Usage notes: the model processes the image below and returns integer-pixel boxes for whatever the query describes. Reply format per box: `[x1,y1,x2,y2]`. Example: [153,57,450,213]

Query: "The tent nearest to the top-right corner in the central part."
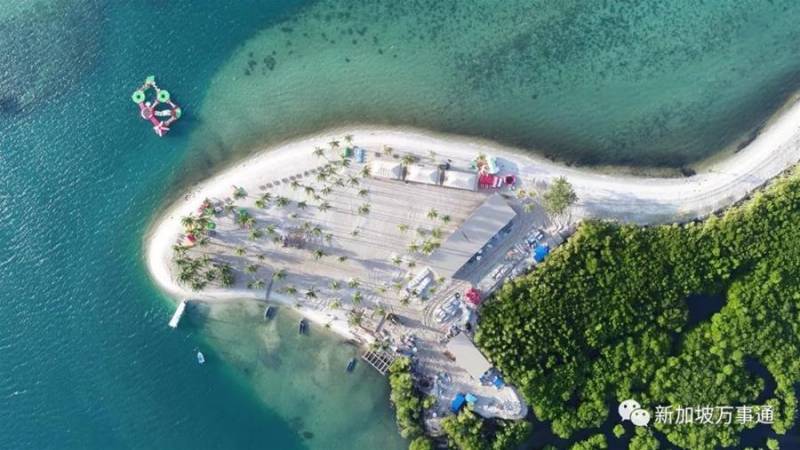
[442,169,477,191]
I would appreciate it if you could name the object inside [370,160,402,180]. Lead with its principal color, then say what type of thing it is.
white tent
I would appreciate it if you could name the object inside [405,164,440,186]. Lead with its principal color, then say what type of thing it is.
white tent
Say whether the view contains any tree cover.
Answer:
Yes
